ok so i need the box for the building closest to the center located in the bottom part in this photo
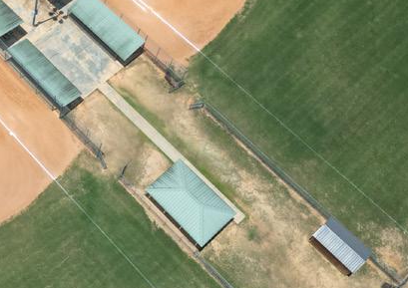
[143,158,237,249]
